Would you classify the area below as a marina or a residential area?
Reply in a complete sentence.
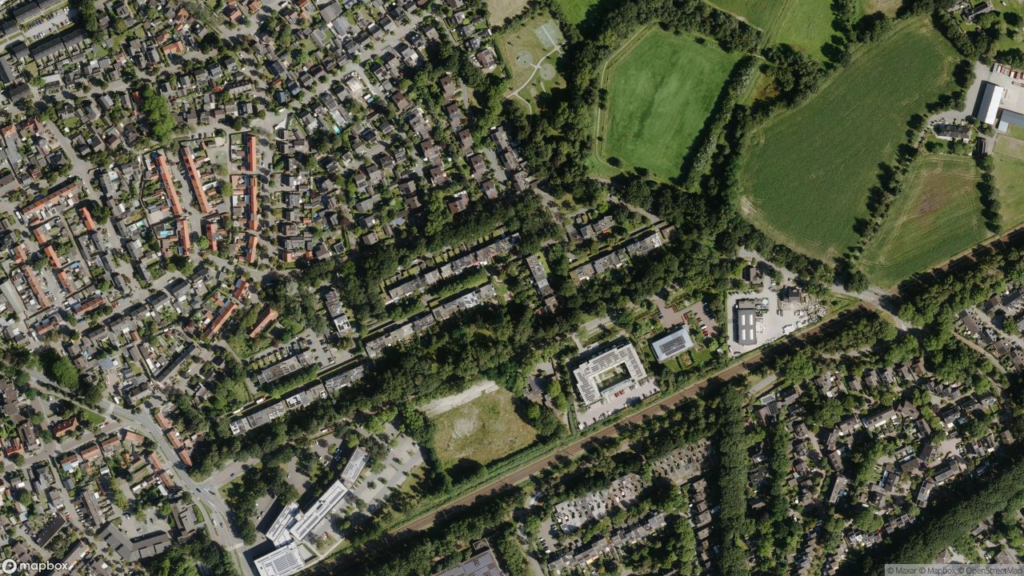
The picture captures a residential area.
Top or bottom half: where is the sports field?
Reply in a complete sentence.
The sports field is in the top half of the image.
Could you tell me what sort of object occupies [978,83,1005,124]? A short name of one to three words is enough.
barn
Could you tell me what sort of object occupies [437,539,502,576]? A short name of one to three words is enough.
building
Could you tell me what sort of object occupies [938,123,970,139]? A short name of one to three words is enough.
house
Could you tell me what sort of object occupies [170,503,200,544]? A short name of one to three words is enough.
house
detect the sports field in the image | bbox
[593,19,756,189]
